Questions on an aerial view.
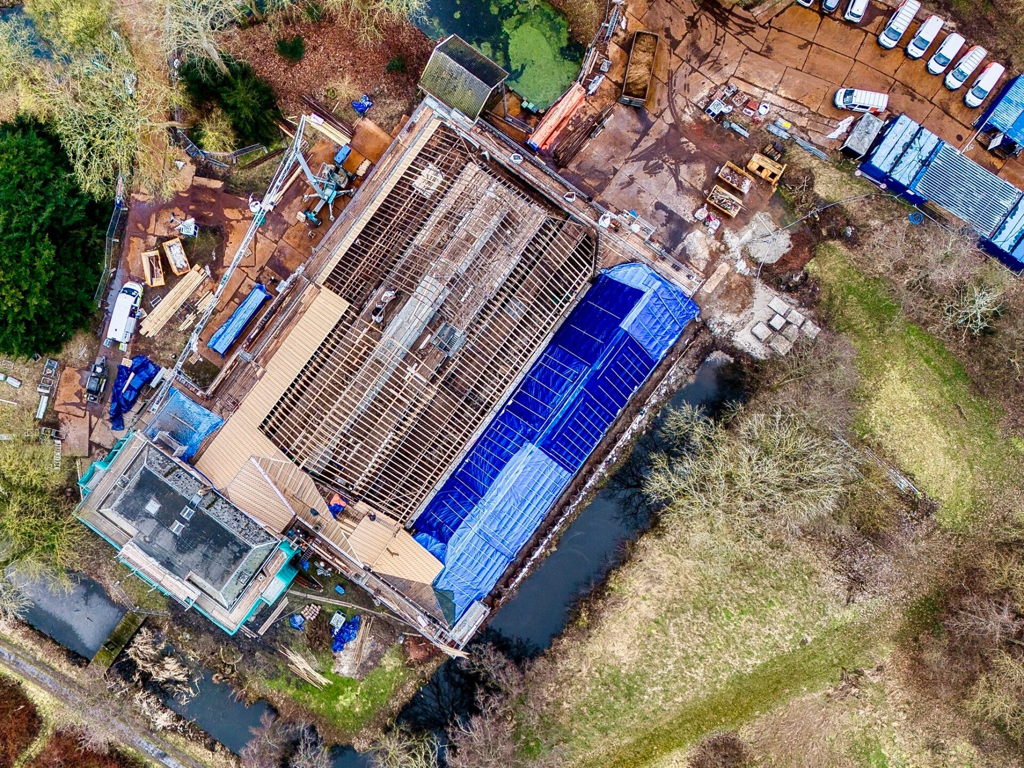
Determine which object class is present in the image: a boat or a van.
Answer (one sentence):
Looking from above, you can make out a van.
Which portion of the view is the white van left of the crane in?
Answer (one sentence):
The white van left of the crane sits in the left section of the image.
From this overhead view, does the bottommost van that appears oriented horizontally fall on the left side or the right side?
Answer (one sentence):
The bottommost van that appears oriented horizontally appears in the right half of the scene.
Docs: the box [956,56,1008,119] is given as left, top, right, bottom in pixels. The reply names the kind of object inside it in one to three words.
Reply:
van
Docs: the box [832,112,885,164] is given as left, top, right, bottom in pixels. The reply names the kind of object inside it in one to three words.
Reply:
shed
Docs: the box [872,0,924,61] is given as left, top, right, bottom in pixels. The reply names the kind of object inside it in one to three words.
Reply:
van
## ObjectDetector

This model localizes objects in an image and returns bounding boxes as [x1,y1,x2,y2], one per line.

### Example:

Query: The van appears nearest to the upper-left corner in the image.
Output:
[109,281,148,353]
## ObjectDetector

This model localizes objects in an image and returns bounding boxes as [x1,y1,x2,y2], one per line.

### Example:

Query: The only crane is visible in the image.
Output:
[151,115,358,412]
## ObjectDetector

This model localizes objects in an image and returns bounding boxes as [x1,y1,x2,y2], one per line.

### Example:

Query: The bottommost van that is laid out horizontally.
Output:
[826,85,891,119]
